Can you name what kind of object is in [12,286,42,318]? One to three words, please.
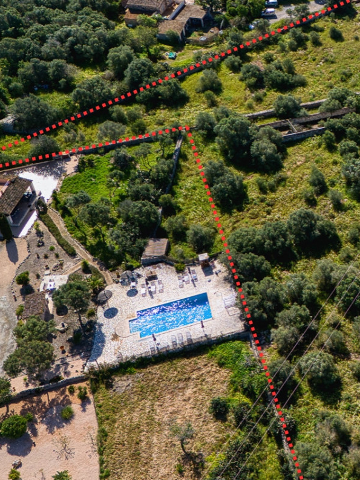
shed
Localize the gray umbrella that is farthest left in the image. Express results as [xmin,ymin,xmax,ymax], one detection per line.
[95,289,114,304]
